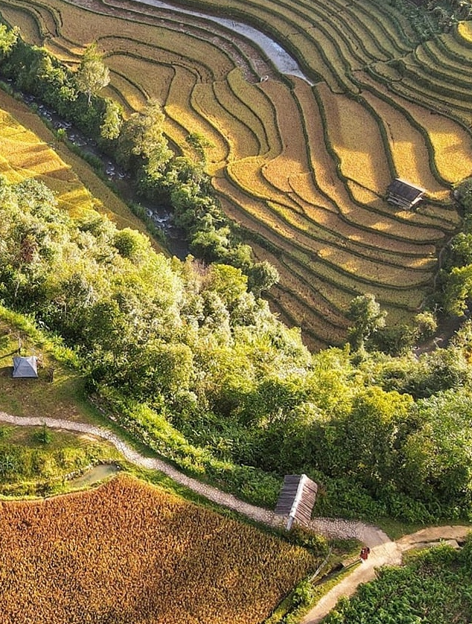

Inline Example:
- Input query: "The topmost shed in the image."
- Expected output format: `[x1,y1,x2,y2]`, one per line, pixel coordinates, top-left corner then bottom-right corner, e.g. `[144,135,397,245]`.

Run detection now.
[381,177,428,218]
